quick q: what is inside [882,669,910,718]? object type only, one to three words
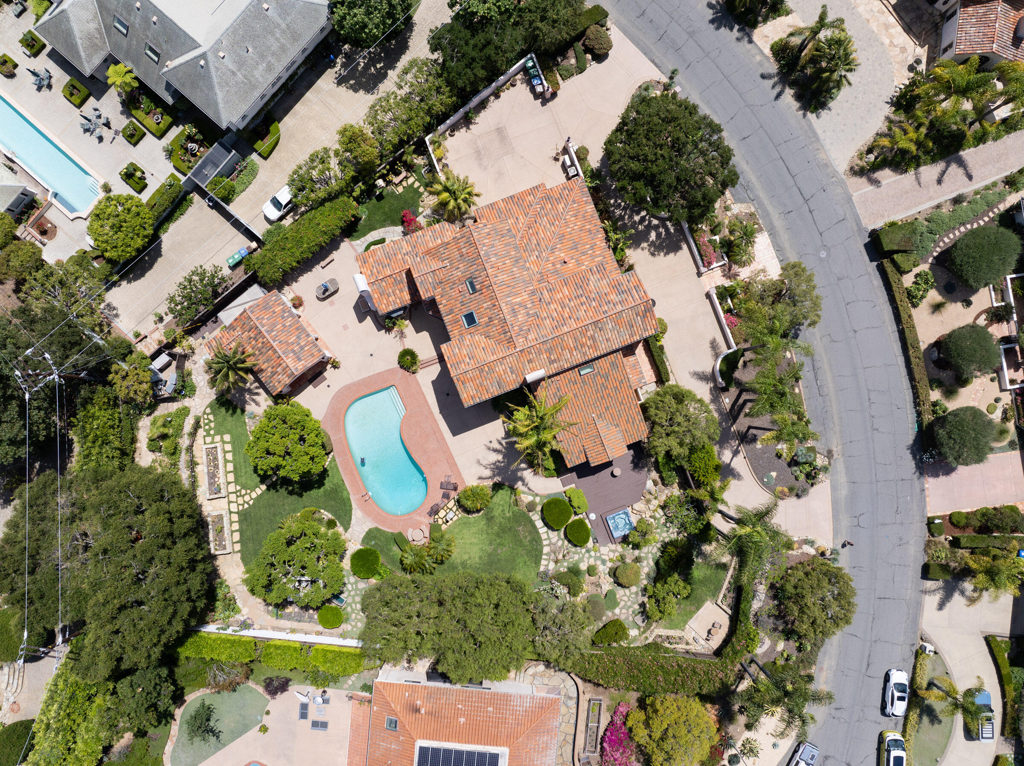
car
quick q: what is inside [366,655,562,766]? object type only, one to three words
house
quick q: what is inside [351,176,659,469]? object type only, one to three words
house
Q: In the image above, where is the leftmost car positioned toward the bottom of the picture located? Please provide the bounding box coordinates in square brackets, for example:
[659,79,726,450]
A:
[784,737,819,766]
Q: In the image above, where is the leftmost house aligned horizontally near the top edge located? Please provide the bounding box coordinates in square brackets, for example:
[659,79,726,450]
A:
[28,0,338,138]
